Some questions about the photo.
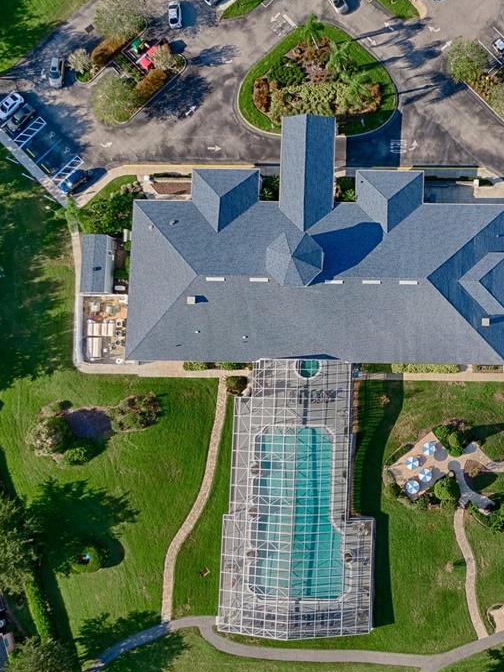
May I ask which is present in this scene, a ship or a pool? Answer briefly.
pool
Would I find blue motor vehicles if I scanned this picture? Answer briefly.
Yes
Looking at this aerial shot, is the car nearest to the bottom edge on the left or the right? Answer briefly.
left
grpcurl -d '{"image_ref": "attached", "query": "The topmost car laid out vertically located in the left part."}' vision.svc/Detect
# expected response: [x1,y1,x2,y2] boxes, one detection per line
[167,0,182,30]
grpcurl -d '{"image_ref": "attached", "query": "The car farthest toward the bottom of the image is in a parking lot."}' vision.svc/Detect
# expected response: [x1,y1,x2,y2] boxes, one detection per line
[59,168,90,194]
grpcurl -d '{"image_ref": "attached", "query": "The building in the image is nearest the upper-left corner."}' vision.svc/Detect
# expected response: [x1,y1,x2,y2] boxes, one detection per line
[81,234,113,293]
